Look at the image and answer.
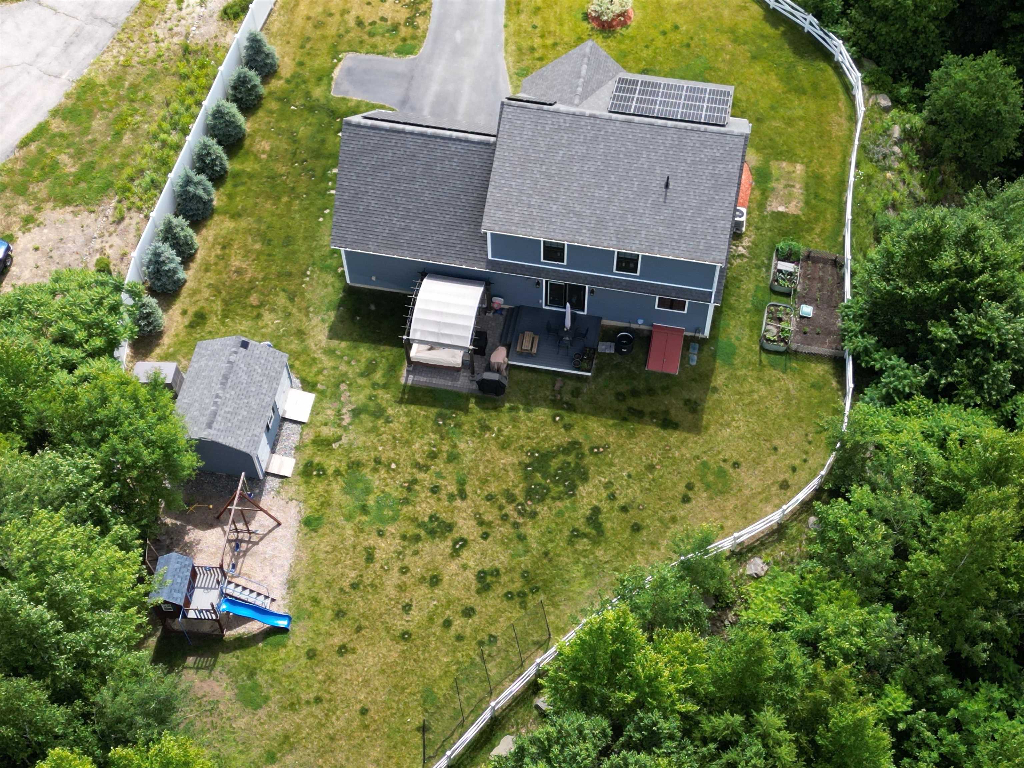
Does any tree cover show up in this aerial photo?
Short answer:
Yes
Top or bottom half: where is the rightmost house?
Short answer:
top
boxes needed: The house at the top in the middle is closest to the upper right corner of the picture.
[329,36,748,344]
